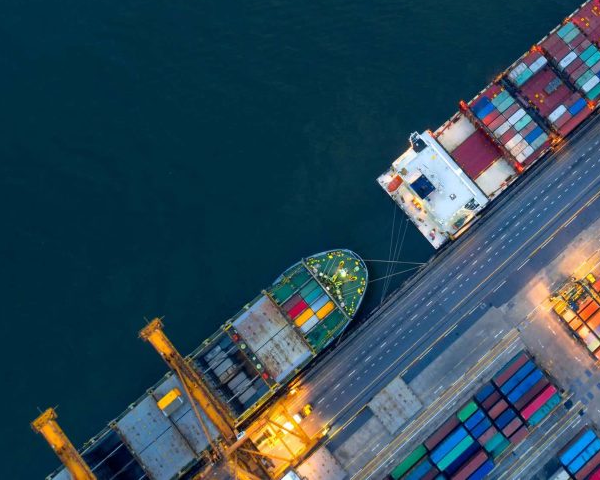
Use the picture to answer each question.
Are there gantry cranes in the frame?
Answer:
Yes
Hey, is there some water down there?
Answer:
Yes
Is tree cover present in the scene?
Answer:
No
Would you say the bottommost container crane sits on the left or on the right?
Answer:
left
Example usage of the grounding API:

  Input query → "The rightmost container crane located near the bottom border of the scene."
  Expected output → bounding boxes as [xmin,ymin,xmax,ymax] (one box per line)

[130,314,335,480]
